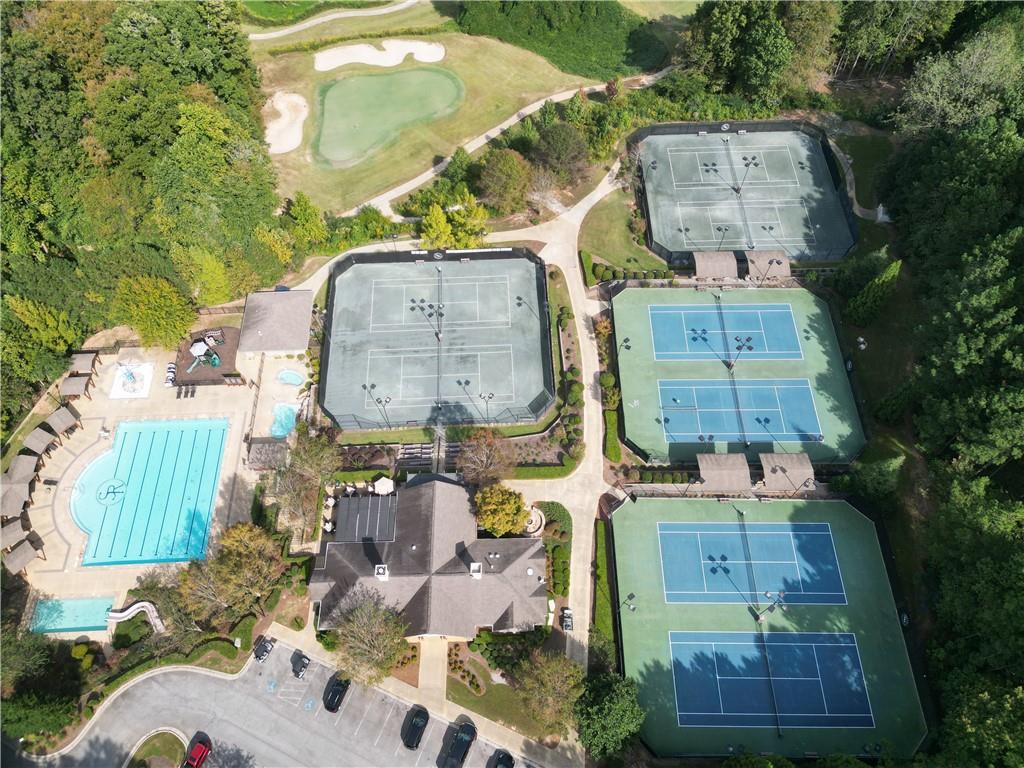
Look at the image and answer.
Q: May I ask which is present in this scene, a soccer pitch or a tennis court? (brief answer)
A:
tennis court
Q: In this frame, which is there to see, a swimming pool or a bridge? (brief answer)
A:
swimming pool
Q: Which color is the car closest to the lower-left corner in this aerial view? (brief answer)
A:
red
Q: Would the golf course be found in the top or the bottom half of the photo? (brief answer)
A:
top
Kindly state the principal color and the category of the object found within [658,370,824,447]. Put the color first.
blue tennis court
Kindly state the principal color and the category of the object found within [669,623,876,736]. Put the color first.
blue tennis court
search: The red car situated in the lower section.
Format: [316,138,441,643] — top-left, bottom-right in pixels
[178,739,211,768]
